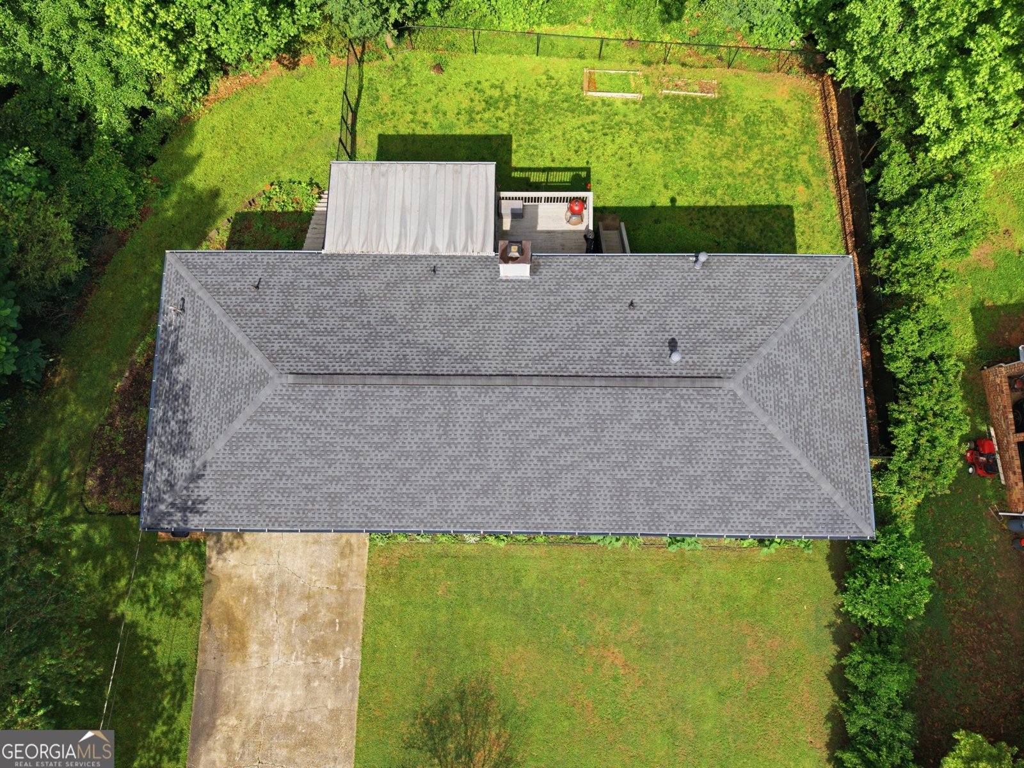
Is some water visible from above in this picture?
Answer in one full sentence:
No, water can't be seen anywhere here.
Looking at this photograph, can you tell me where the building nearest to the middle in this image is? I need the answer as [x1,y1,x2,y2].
[136,160,878,542]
